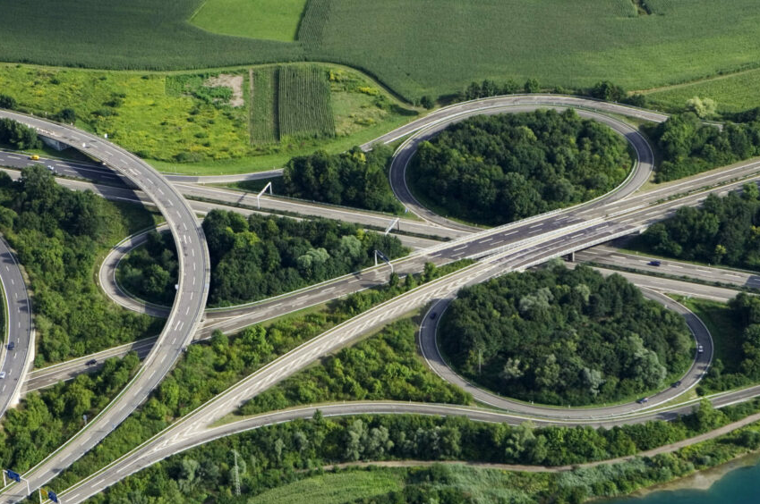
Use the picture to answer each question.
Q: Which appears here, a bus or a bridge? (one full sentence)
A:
I can see a bridge in this picture.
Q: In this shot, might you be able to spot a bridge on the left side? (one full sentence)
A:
Yes, I can see a bridge on the left side.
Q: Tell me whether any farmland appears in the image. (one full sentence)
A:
Yes, farmland shows up in the scene.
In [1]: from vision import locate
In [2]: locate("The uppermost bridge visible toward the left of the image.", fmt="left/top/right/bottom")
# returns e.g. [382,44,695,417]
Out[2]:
[60,129,210,371]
